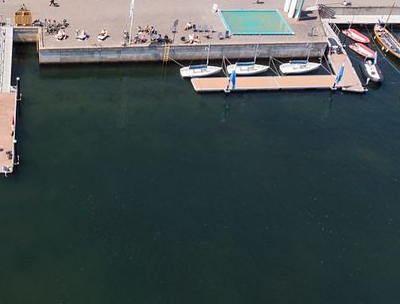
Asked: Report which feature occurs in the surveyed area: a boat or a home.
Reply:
boat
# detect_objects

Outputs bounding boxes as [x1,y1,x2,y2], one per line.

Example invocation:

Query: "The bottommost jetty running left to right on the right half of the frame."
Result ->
[192,77,332,94]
